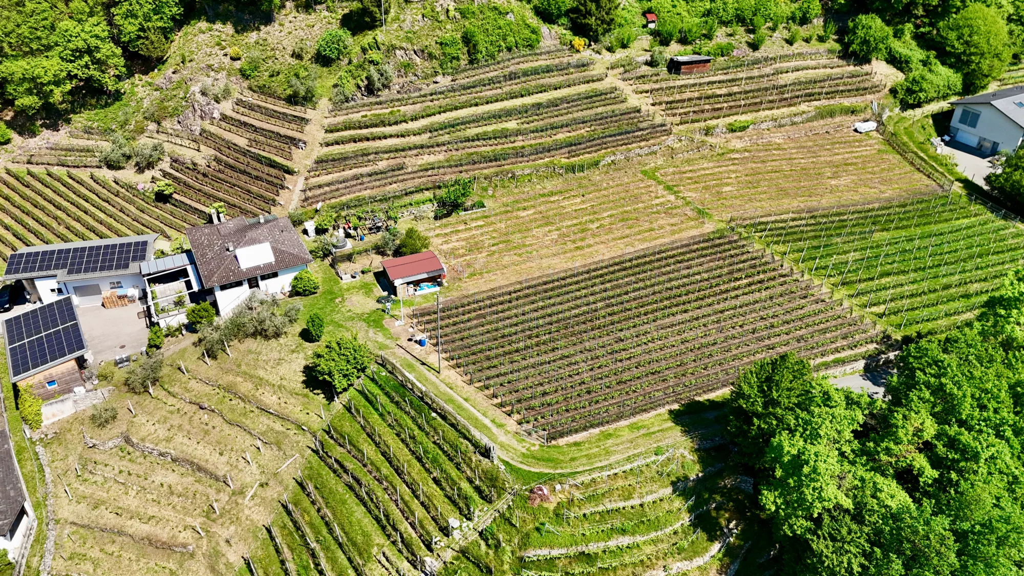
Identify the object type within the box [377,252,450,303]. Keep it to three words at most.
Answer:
shed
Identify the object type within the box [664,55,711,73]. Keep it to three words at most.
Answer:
building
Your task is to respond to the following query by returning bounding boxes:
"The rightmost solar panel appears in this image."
[235,241,274,270]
